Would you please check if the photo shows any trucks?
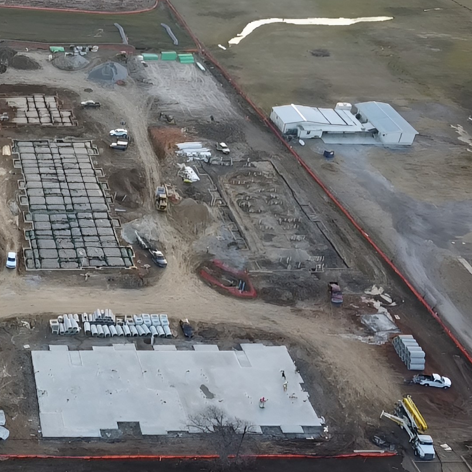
Yes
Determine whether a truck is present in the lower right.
Yes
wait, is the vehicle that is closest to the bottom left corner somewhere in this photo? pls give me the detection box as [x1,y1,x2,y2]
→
[5,249,19,269]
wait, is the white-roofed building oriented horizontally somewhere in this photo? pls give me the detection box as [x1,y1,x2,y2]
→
[269,104,376,141]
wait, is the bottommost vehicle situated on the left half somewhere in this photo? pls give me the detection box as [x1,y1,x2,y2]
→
[176,313,196,340]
